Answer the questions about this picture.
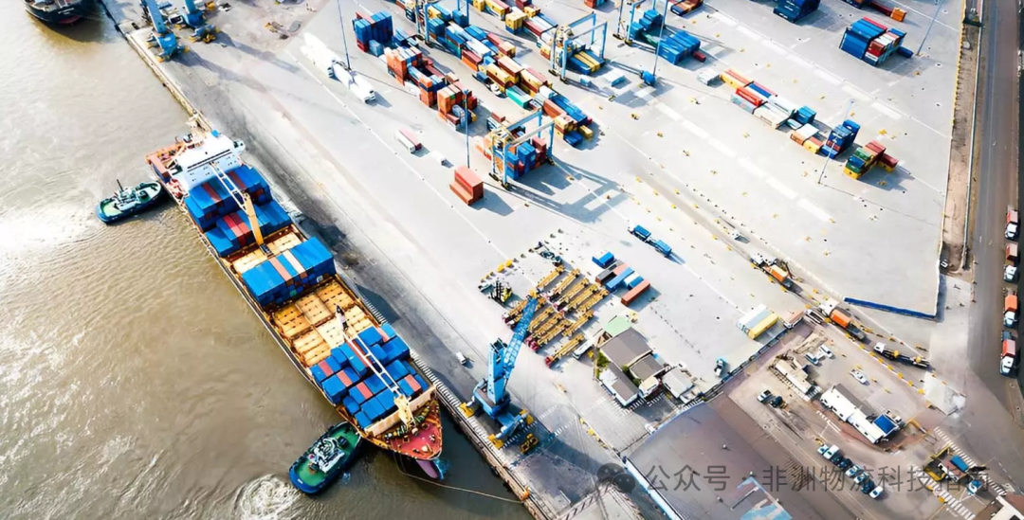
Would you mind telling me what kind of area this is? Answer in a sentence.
The picture captures a port.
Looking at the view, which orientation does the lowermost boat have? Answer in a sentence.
What the image shows is the lowermost boat lying on a diagonal.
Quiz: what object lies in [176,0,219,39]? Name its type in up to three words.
crane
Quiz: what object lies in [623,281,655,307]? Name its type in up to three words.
shipping container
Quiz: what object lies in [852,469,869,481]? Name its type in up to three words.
vehicle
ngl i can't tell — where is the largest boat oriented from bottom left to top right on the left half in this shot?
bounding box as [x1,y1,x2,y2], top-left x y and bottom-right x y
[283,424,369,501]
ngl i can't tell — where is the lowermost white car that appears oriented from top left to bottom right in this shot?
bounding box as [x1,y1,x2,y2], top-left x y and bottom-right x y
[884,409,900,423]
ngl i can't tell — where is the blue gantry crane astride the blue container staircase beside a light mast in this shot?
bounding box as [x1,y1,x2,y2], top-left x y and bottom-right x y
[613,0,671,46]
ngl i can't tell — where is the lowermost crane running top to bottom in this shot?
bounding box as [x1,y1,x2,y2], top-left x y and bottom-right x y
[467,289,537,443]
